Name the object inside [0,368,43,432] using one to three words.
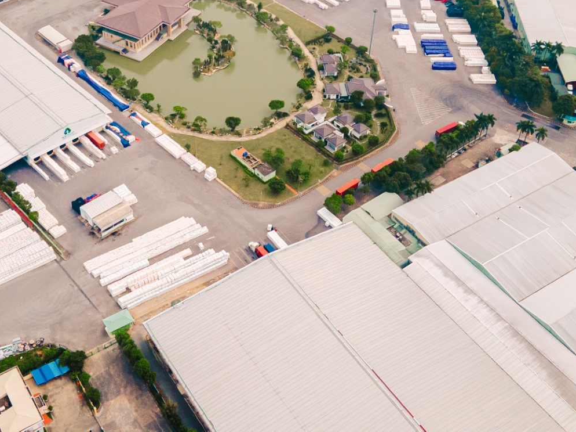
house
